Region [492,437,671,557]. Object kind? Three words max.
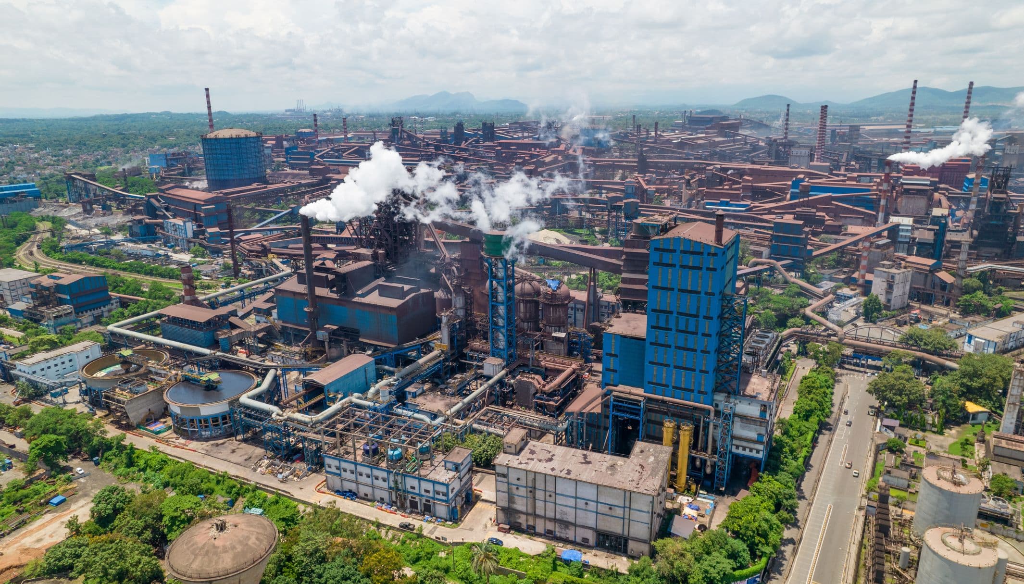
building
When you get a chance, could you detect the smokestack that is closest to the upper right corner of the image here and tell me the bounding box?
[959,82,974,144]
